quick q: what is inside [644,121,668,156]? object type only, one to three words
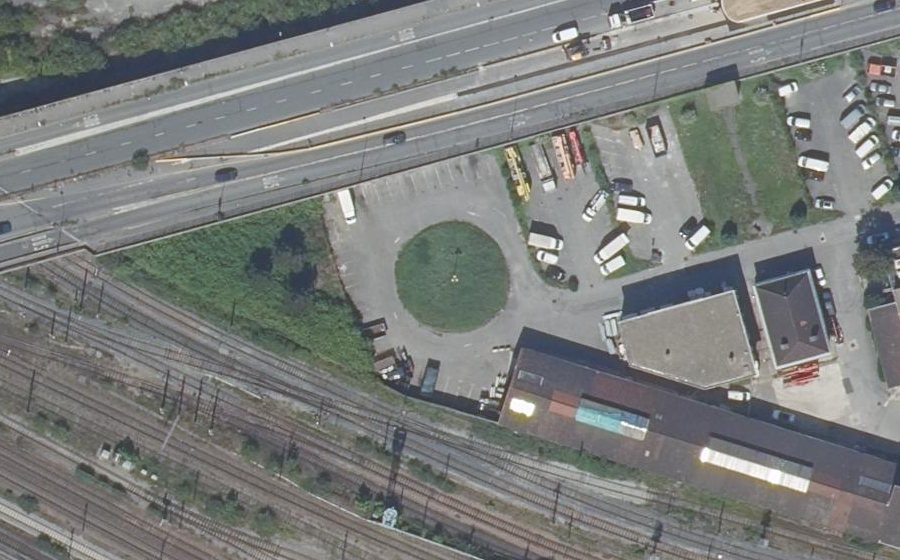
truck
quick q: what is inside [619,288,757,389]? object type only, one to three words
building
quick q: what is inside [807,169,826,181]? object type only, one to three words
vehicle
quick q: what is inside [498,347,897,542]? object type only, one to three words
shed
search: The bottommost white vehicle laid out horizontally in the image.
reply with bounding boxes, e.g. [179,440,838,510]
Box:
[726,389,751,403]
